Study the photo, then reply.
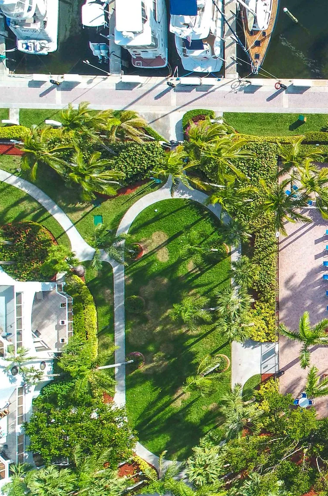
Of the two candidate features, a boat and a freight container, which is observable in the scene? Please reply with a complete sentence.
This aerial view contains a boat.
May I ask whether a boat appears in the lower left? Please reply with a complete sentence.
No, looking in the lower left, there is no boat.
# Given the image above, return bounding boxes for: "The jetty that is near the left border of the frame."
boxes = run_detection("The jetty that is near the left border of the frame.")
[0,29,14,74]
